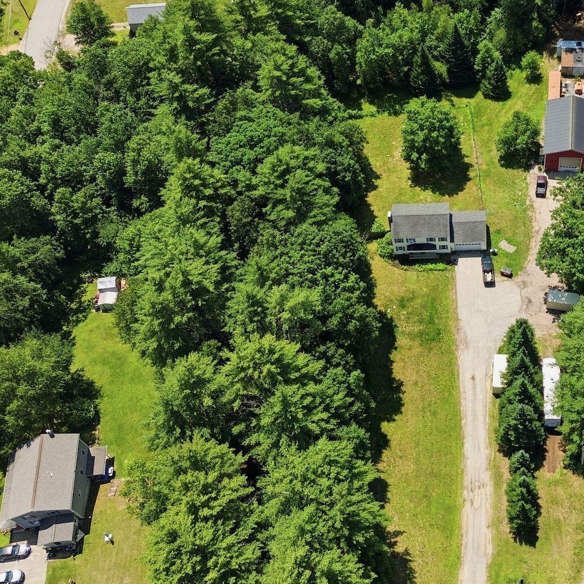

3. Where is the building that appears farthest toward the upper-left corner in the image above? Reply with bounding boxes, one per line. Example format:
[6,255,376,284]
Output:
[126,7,159,35]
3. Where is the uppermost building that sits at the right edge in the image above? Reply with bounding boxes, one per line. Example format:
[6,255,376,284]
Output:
[540,94,584,172]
